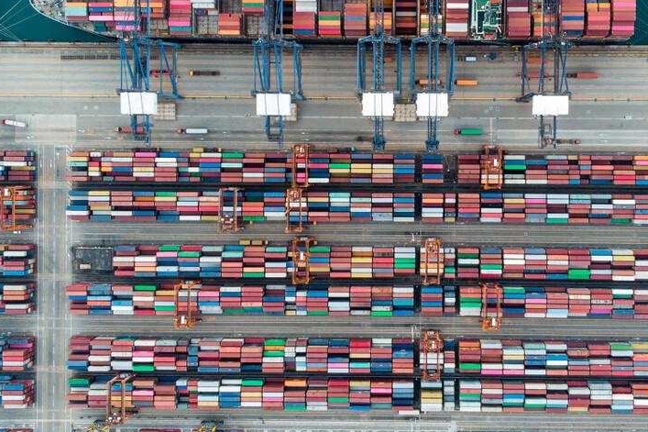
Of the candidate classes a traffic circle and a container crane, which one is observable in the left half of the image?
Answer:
container crane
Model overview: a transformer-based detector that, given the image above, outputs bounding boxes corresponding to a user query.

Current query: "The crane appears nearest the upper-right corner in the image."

[519,0,572,146]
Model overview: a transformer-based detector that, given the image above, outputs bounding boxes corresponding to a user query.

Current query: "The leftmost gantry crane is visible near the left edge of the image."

[0,182,34,232]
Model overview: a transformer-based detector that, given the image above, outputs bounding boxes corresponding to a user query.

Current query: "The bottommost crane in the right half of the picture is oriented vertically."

[420,323,442,380]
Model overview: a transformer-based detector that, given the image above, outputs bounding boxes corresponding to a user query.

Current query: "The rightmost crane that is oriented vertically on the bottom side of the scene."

[477,276,501,331]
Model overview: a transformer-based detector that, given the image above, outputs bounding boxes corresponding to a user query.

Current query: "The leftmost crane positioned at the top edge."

[118,0,184,143]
